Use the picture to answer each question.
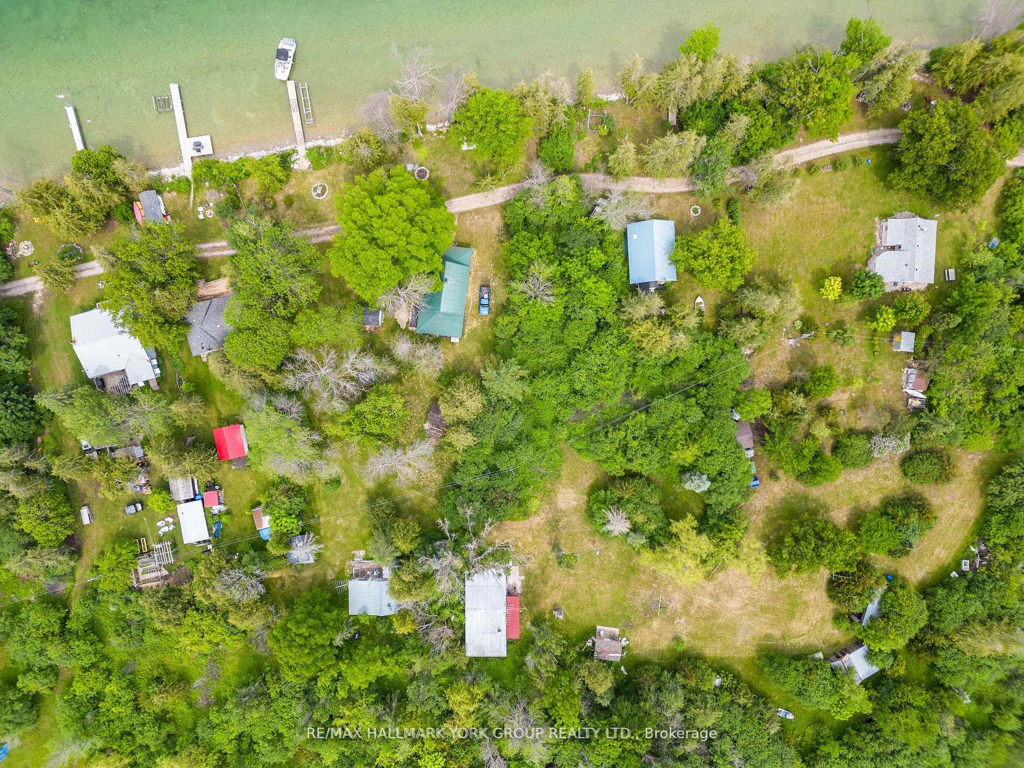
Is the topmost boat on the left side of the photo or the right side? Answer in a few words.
left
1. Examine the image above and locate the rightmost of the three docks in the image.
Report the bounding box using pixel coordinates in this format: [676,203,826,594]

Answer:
[287,80,306,154]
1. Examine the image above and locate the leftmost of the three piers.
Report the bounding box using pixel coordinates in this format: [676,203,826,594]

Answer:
[66,106,85,155]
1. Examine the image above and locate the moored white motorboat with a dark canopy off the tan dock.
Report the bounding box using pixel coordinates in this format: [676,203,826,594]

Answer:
[276,35,296,80]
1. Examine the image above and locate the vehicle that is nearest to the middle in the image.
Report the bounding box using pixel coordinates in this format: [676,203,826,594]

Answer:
[477,284,491,316]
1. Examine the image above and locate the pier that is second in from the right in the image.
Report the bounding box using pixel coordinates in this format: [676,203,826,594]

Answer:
[169,83,213,178]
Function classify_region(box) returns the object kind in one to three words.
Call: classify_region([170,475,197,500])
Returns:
shed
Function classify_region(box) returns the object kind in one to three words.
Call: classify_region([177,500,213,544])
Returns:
building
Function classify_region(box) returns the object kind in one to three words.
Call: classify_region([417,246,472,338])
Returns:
house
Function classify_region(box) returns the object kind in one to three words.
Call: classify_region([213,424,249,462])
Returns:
shed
